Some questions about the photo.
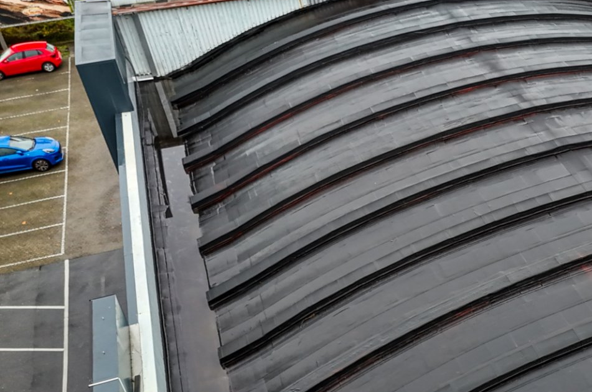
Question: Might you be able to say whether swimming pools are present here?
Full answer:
No, there isn't any swimming pool down there.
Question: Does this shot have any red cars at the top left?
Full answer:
Yes, there is a red car at the top left.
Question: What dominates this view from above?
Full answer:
Most of the picture is covered by buildings.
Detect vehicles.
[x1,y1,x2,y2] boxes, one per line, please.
[0,134,64,176]
[0,40,60,78]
